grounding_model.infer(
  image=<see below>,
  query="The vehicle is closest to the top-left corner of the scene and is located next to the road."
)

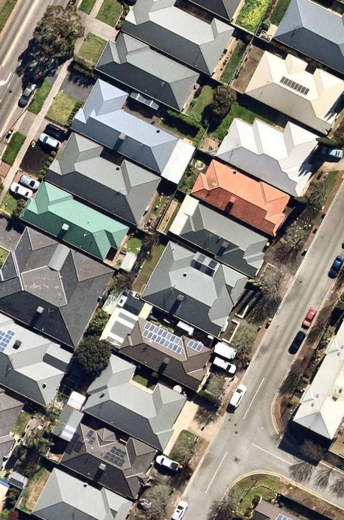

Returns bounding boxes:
[17,83,34,107]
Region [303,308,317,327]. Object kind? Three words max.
vehicle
